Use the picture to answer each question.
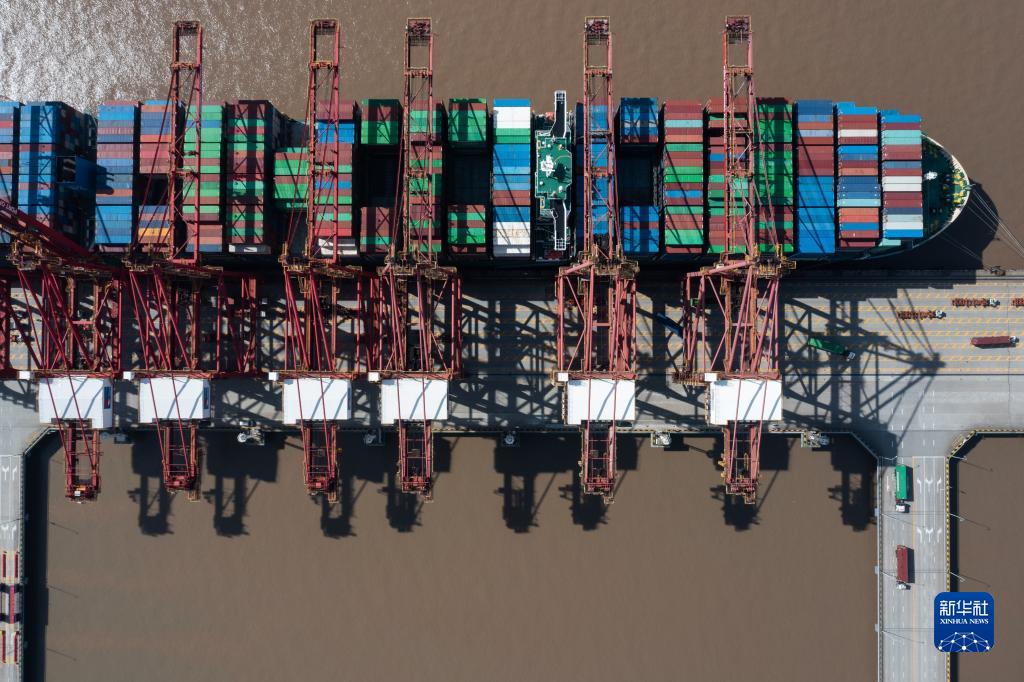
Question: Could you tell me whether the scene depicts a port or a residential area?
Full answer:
This image shows a port.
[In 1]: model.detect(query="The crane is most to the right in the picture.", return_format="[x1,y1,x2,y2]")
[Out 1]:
[655,16,800,507]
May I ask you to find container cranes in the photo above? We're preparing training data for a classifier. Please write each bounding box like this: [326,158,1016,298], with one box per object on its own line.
[118,22,285,506]
[367,16,480,507]
[0,189,185,507]
[0,261,104,379]
[537,16,643,507]
[265,22,389,506]
[655,16,800,507]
